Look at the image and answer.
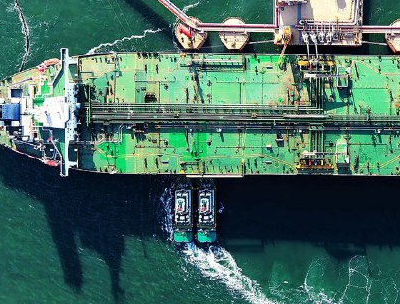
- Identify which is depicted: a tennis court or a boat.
boat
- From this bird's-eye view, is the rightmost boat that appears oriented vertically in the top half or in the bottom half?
bottom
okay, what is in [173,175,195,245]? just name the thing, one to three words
boat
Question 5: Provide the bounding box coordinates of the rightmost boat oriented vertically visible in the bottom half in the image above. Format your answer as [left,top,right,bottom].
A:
[196,175,219,244]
